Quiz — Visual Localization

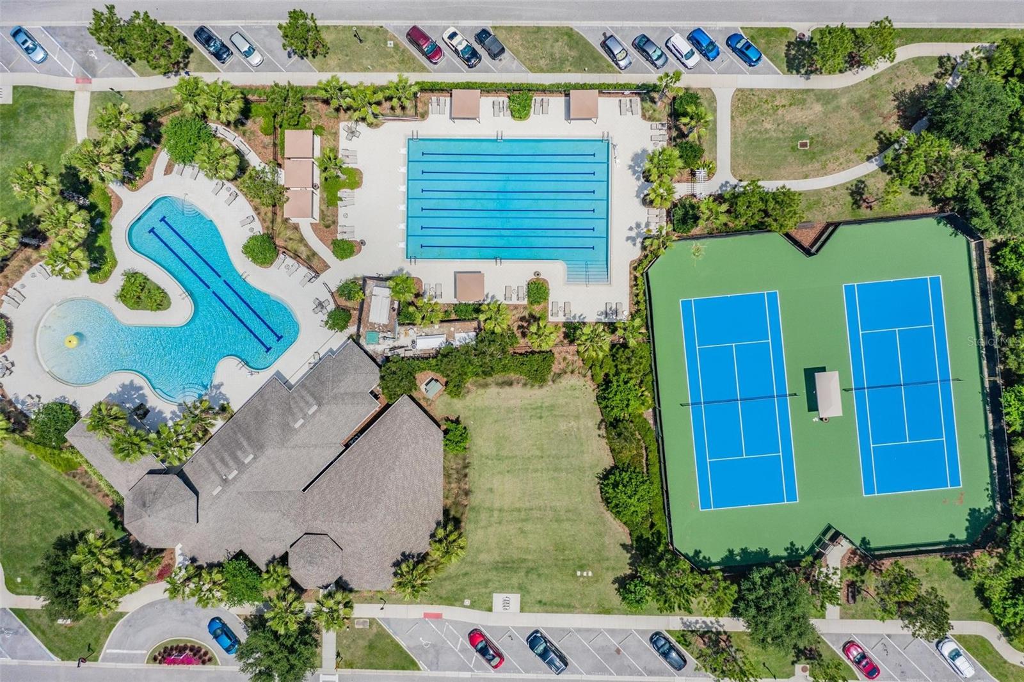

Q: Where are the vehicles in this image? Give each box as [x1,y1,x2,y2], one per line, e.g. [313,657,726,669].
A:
[403,21,446,68]
[838,636,883,682]
[522,625,571,680]
[598,30,634,73]
[684,24,721,65]
[629,30,669,73]
[646,627,689,674]
[227,28,267,70]
[9,23,51,67]
[723,30,765,71]
[662,29,702,74]
[440,23,484,72]
[932,633,978,681]
[191,21,235,67]
[469,24,508,64]
[465,624,507,672]
[206,613,242,656]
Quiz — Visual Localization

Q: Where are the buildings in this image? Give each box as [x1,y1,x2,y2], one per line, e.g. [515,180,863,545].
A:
[70,339,444,590]
[369,285,392,323]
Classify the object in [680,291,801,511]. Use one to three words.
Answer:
tennis court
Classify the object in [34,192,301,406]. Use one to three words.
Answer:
swimming pool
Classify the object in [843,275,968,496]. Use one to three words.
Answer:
tennis court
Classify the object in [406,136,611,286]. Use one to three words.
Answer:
swimming pool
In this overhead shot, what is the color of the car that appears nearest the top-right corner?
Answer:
blue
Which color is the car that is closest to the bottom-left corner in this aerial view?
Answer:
blue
